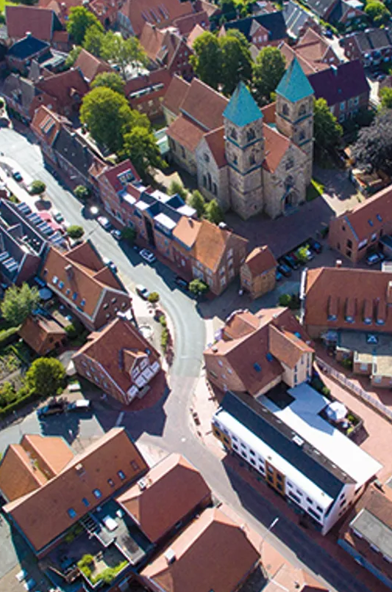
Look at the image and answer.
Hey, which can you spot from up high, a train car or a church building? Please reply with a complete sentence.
The one in the frame is a church building.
